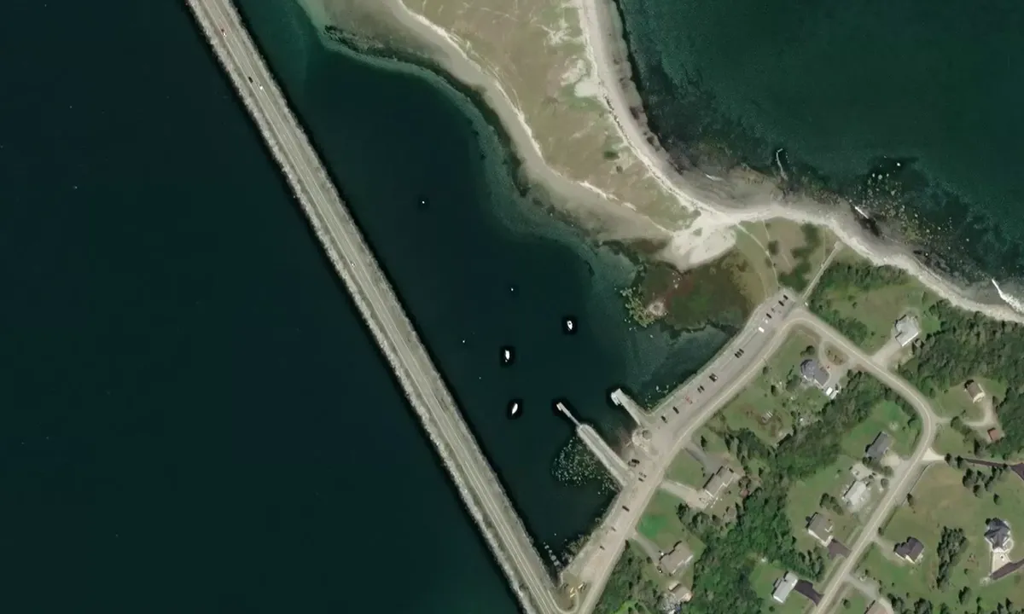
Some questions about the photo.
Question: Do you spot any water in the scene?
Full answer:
Yes, the picture does contain water.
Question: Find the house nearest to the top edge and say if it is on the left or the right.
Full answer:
The house nearest to the top edge sits on the right side.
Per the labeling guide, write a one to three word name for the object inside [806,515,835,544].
house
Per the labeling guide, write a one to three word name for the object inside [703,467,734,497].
house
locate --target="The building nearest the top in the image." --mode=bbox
[895,316,919,348]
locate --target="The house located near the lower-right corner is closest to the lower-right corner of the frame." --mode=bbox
[985,517,1012,552]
